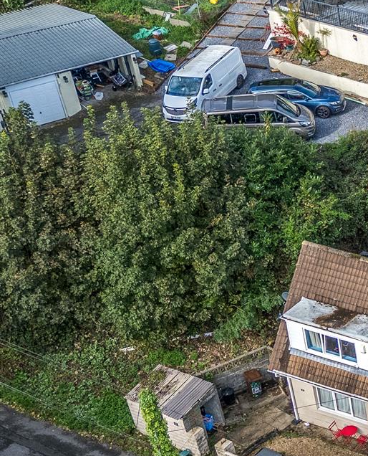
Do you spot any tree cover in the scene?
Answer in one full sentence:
Yes, some tree cover is visible.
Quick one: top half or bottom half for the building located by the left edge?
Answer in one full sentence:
You can find the building located by the left edge in the top half.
